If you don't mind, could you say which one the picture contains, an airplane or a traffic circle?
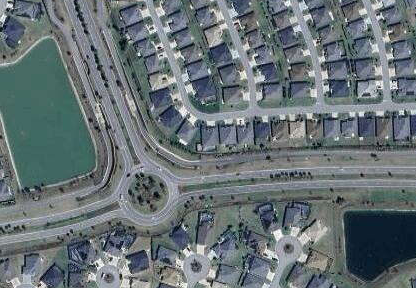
traffic circle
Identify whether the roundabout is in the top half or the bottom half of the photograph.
bottom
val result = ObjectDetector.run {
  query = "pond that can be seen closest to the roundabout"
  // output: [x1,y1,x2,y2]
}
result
[0,37,96,188]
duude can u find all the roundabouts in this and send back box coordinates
[117,163,180,225]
